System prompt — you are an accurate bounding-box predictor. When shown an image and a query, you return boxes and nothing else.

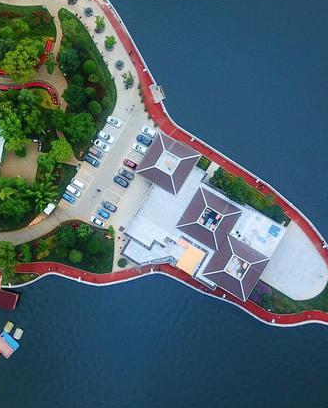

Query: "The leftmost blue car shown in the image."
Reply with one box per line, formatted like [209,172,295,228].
[61,191,77,204]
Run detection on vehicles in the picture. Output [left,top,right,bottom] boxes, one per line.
[64,184,81,197]
[113,175,130,188]
[135,133,152,147]
[101,200,118,213]
[95,207,111,219]
[118,168,135,180]
[69,177,84,189]
[131,142,148,155]
[140,126,157,138]
[97,130,113,143]
[83,155,99,167]
[61,191,77,204]
[88,146,103,159]
[104,115,121,128]
[93,139,110,151]
[122,158,138,170]
[89,215,105,228]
